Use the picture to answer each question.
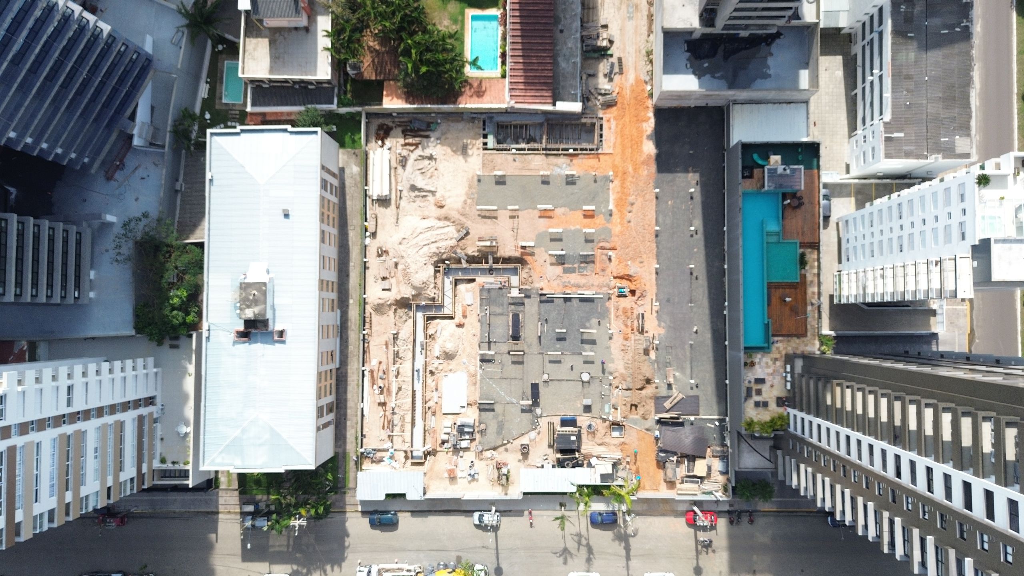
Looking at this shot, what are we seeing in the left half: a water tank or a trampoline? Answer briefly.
water tank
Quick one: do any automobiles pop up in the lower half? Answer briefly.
Yes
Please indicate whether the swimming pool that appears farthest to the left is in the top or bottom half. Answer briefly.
top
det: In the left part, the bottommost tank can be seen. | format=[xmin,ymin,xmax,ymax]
[239,282,273,319]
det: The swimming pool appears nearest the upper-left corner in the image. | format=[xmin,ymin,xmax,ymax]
[215,55,246,109]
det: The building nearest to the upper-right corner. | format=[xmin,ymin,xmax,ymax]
[819,0,979,177]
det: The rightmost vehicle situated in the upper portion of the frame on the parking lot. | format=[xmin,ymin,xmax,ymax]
[820,189,836,218]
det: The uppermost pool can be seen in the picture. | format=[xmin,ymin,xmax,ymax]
[464,8,501,77]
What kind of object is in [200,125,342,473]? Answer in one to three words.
building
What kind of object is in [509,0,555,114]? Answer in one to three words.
building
